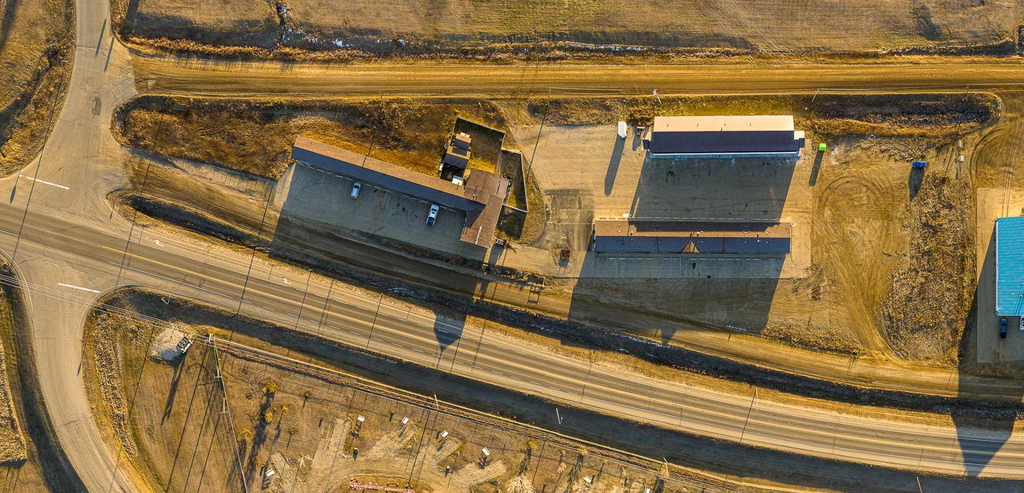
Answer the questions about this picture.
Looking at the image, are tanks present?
No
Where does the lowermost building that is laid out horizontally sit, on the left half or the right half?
right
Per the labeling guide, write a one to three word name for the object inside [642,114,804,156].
building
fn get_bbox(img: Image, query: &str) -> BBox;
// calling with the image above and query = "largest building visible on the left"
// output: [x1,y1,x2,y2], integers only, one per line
[292,136,509,249]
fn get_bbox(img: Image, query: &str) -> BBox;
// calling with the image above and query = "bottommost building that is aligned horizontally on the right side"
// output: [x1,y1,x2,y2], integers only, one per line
[595,221,791,253]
